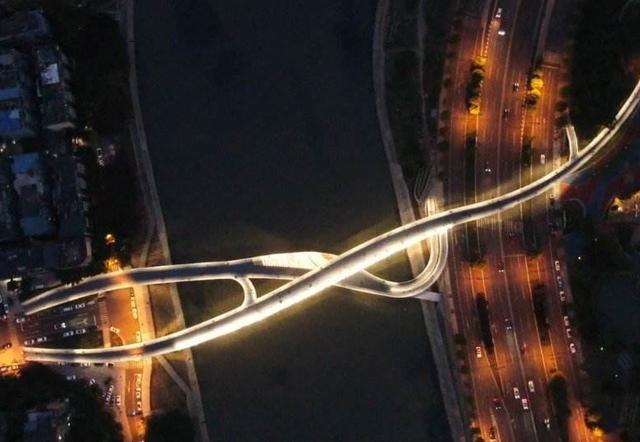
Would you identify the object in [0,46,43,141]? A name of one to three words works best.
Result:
building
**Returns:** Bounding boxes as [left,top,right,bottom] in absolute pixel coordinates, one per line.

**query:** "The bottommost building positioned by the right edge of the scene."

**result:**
[593,369,640,442]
